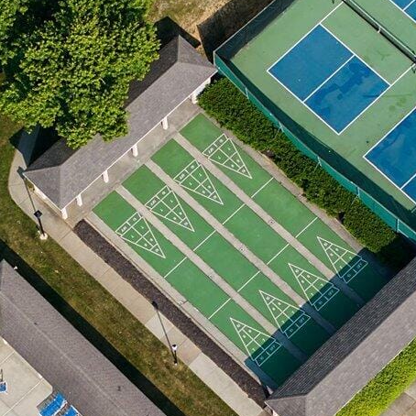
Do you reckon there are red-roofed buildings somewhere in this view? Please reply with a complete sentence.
No, I can't see a single red-roofed building in this photo.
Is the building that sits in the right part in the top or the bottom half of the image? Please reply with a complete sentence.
The building that sits in the right part sits in the bottom half of the picture.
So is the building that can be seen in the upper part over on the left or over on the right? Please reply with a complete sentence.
It is on the left.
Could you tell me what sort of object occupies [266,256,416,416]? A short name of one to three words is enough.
building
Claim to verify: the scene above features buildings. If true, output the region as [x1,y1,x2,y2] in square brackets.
[0,261,163,416]
[24,34,218,222]
[266,256,416,416]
